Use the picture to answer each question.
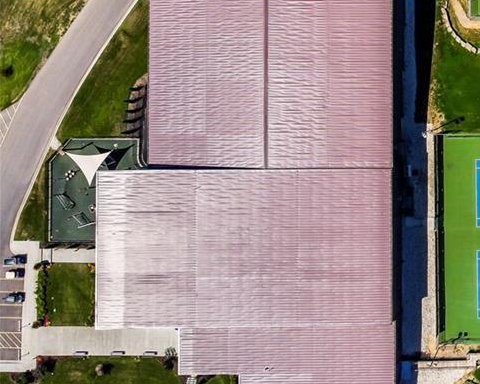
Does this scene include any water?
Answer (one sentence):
No, water can't be seen anywhere here.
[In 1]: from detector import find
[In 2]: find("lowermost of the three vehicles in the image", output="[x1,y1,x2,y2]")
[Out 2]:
[0,293,24,306]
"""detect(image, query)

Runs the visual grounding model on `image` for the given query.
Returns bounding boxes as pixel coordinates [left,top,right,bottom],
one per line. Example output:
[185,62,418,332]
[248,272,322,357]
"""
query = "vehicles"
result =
[0,293,24,306]
[1,255,25,267]
[1,268,25,280]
